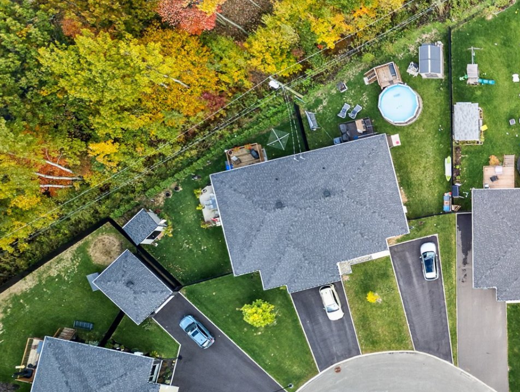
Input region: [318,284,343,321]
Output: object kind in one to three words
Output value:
car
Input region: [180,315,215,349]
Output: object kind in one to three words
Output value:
car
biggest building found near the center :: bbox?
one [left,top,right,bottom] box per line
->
[210,133,408,293]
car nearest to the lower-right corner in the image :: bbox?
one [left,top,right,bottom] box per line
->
[420,241,439,280]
